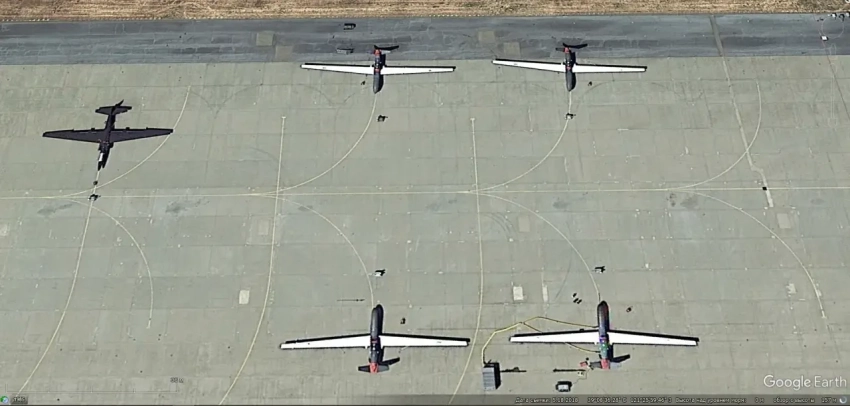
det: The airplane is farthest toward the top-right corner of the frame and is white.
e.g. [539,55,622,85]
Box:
[492,43,647,92]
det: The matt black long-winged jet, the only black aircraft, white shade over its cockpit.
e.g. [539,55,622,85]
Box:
[44,98,172,174]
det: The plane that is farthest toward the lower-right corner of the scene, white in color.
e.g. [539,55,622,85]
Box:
[510,304,700,370]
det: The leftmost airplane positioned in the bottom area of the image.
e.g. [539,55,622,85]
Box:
[281,308,471,374]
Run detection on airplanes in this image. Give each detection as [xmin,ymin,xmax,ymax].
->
[510,304,700,370]
[44,98,172,174]
[300,46,456,95]
[492,43,647,92]
[281,308,471,374]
